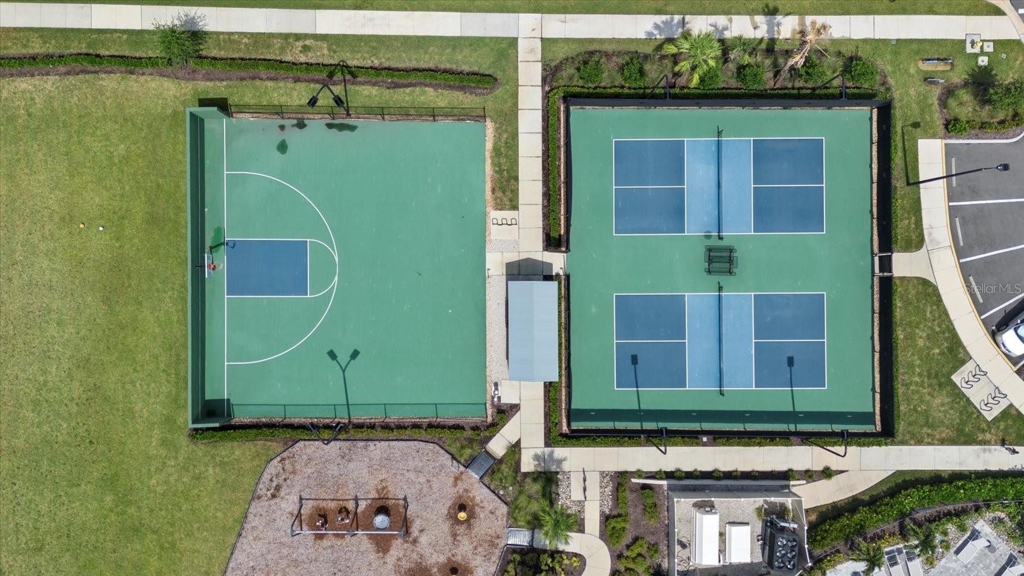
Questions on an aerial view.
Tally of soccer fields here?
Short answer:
0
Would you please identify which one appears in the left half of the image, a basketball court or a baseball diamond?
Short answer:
basketball court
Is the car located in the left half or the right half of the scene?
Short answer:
right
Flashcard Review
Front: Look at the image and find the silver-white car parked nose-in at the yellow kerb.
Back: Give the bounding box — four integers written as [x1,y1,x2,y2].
[994,309,1024,353]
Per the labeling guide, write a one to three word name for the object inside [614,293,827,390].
sports court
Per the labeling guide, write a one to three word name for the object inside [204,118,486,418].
basketball court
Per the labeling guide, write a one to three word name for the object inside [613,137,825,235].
sports court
